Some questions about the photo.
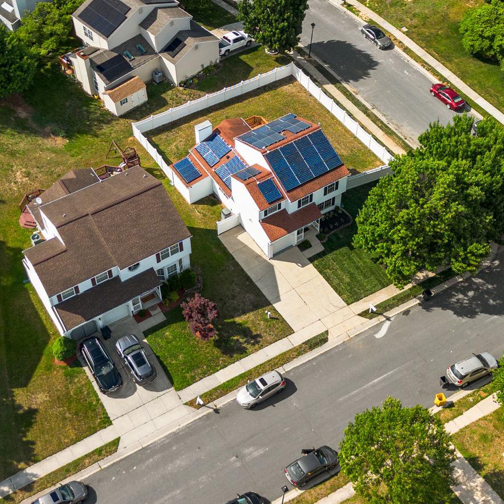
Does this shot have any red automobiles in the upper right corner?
Yes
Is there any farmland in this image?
No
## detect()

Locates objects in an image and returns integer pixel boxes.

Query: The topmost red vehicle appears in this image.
[429,83,469,111]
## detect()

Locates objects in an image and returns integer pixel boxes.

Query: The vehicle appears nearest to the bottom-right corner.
[444,351,501,388]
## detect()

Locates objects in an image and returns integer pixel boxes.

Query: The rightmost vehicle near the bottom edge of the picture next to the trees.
[281,445,343,490]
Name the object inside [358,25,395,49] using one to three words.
car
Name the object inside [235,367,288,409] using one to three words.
car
